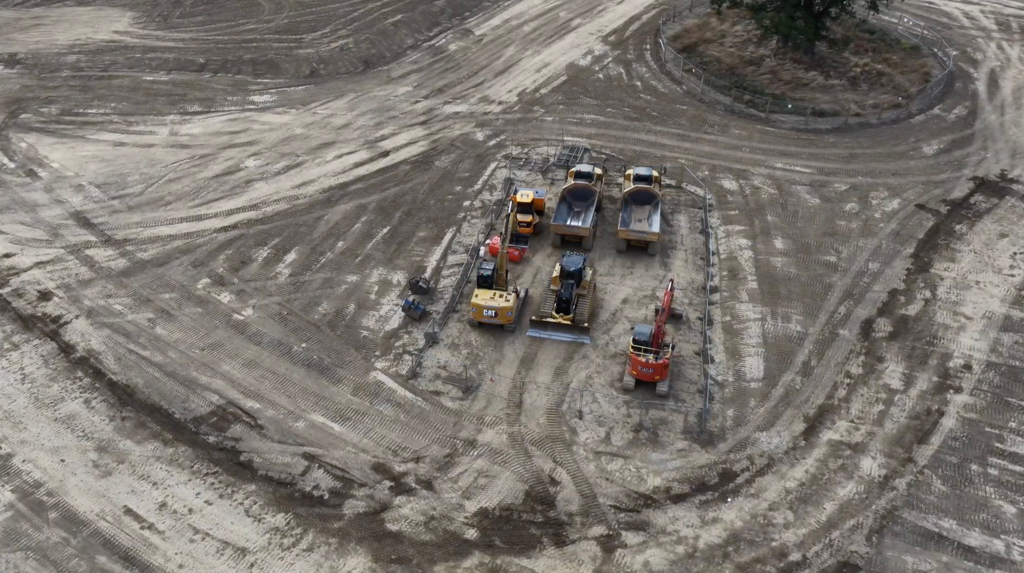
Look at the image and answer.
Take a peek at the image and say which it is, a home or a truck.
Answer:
truck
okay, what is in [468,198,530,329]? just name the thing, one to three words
work vehicle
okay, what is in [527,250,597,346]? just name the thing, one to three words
work vehicle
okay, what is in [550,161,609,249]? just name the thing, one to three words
truck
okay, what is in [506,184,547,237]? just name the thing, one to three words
truck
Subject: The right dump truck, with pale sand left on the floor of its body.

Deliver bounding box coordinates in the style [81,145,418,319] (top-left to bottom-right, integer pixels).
[618,164,667,253]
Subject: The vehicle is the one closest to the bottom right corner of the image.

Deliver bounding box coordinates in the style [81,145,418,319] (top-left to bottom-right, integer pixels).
[623,270,684,394]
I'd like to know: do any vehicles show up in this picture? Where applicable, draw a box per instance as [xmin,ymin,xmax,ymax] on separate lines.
[618,164,667,253]
[623,270,684,394]
[550,161,609,249]
[506,184,547,237]
[468,198,530,329]
[527,250,597,346]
